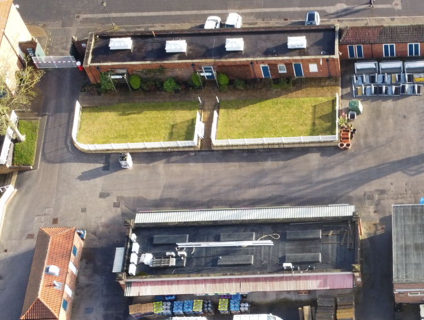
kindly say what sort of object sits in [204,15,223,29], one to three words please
car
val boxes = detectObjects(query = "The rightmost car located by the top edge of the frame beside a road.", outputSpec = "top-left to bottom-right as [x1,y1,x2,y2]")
[303,8,320,26]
